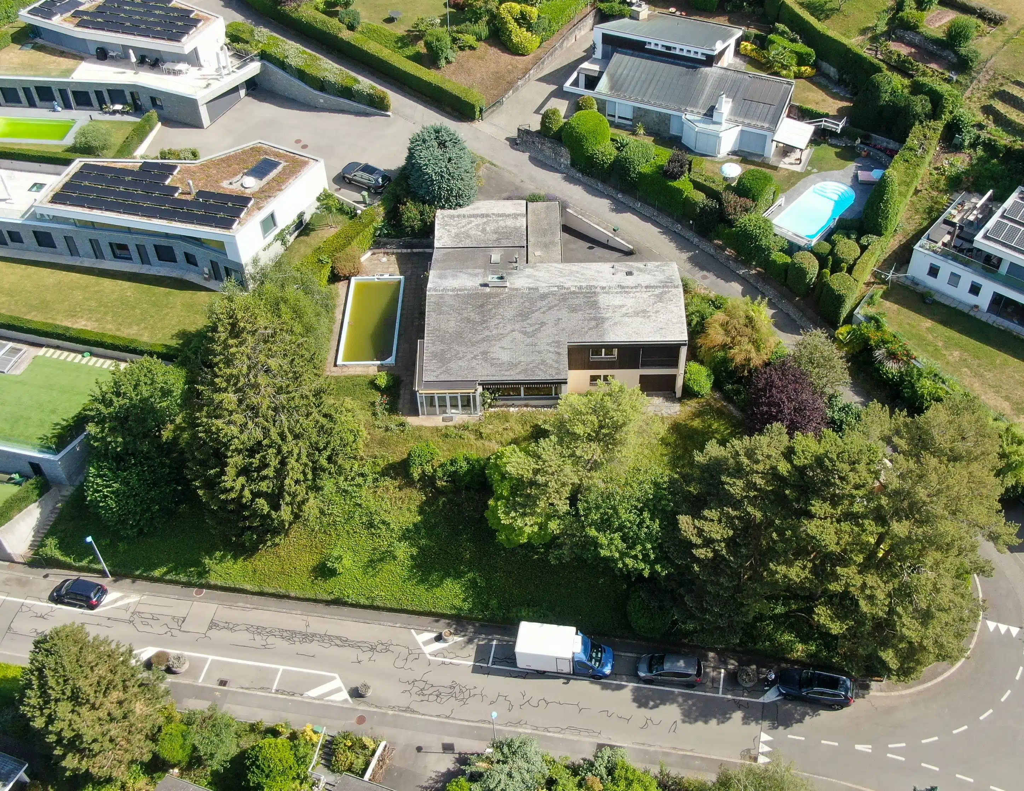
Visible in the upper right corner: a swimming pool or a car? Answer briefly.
swimming pool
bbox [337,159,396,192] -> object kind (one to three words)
car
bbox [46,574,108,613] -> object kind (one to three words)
car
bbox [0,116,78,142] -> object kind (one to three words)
swimming pool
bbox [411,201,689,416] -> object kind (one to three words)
house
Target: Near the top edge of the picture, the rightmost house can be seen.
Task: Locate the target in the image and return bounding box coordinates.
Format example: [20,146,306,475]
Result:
[562,0,795,158]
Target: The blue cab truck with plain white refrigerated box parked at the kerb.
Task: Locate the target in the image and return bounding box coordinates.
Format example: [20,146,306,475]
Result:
[511,620,616,687]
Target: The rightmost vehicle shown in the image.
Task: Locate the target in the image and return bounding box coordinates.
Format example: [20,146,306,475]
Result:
[778,669,863,715]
